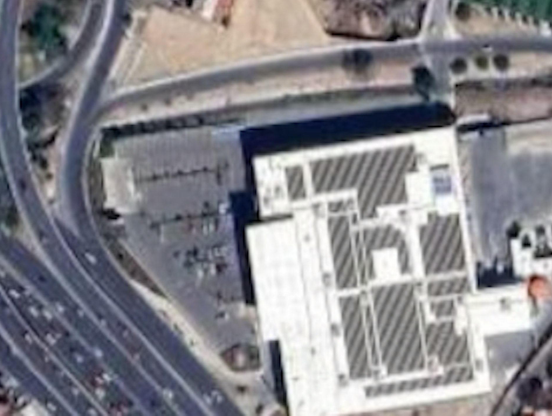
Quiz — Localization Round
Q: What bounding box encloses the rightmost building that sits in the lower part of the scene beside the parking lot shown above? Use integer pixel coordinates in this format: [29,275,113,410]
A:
[229,124,533,416]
